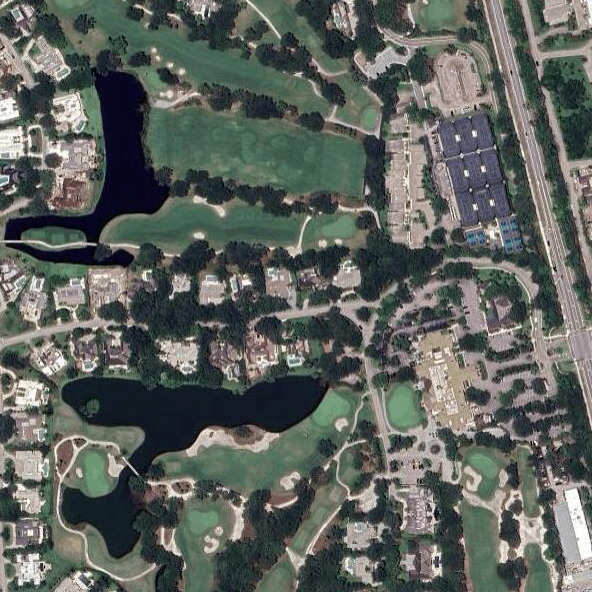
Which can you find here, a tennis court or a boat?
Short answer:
tennis court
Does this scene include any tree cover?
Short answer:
Yes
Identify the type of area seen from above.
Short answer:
residential area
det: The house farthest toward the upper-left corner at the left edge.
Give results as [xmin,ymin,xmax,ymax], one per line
[8,2,41,27]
